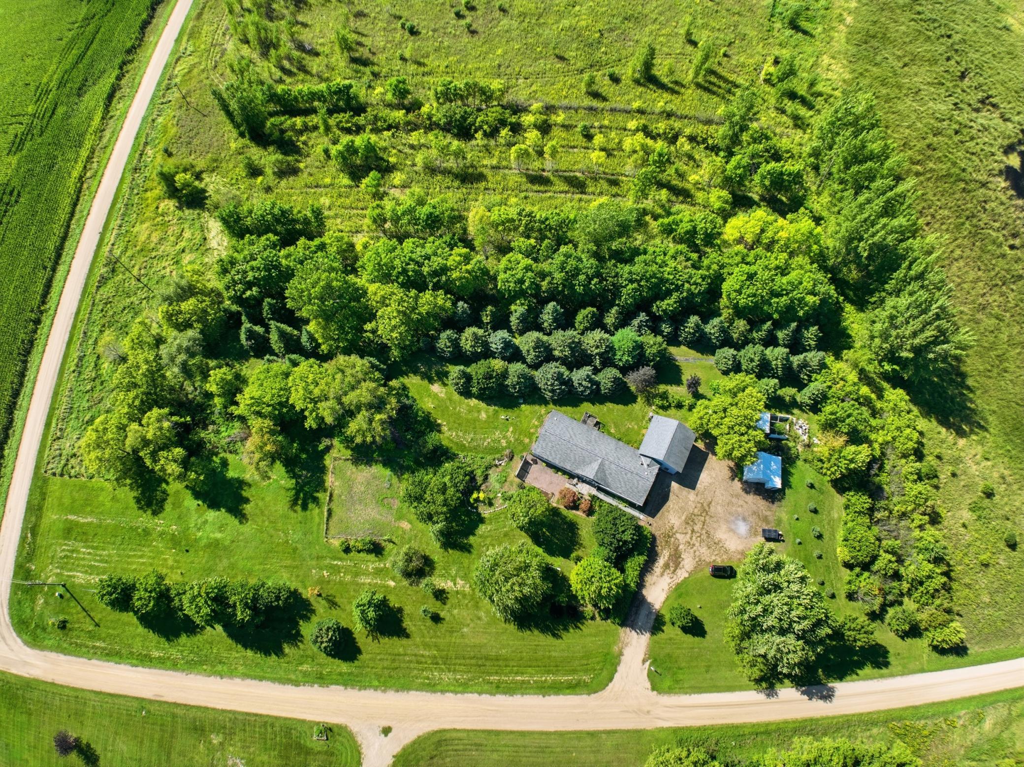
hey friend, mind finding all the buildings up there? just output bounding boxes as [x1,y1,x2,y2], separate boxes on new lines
[738,451,781,492]
[758,412,789,441]
[532,411,661,506]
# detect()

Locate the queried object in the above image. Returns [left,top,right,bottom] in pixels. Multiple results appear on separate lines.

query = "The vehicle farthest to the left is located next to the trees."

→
[710,566,735,578]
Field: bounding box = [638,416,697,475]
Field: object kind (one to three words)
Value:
building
